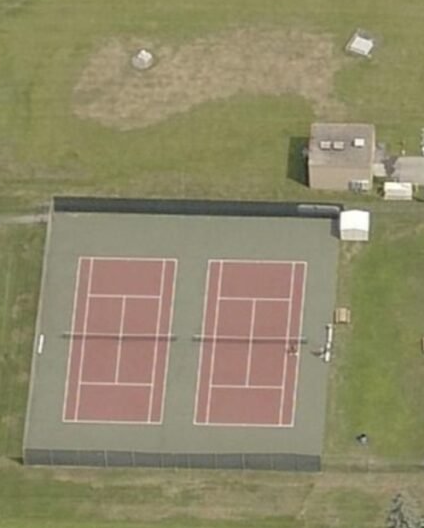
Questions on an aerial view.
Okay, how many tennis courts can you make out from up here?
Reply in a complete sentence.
My tally gives 2 tennis courts in this view.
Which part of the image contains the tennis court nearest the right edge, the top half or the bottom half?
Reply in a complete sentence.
It is in the bottom half that the tennis court nearest the right edge appears.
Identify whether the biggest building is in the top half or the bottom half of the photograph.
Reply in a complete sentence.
Seen from above, the biggest building lies in the top half of the view.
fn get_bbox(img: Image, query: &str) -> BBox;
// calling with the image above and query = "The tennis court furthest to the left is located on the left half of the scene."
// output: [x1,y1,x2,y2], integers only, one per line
[63,257,177,424]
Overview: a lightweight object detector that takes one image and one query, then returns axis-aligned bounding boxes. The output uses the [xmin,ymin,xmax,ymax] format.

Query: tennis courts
[194,260,307,427]
[63,257,177,424]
